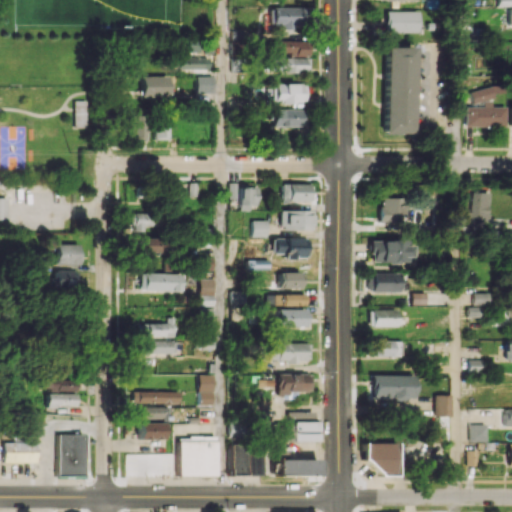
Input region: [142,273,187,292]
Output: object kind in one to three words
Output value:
house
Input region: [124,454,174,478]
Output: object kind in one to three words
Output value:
building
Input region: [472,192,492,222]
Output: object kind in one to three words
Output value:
house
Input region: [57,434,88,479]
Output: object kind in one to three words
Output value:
building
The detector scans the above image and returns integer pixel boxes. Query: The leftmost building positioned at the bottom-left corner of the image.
[4,442,41,465]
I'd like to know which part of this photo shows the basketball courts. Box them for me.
[0,125,27,173]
